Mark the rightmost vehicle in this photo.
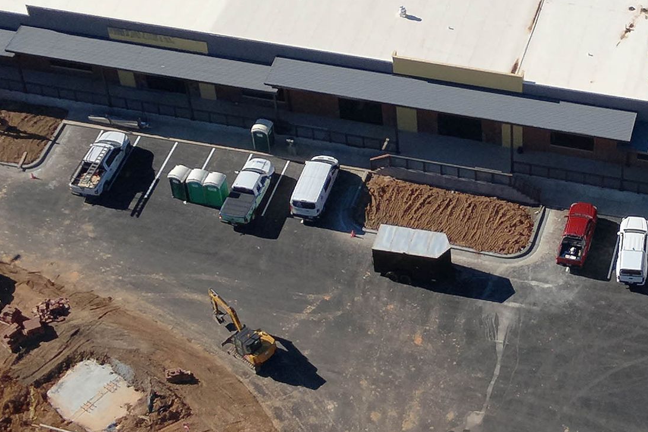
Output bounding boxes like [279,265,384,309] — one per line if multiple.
[616,217,648,288]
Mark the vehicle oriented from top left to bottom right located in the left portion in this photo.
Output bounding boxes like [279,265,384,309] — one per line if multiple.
[213,281,283,384]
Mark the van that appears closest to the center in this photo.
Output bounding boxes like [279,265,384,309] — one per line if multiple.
[292,159,341,219]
